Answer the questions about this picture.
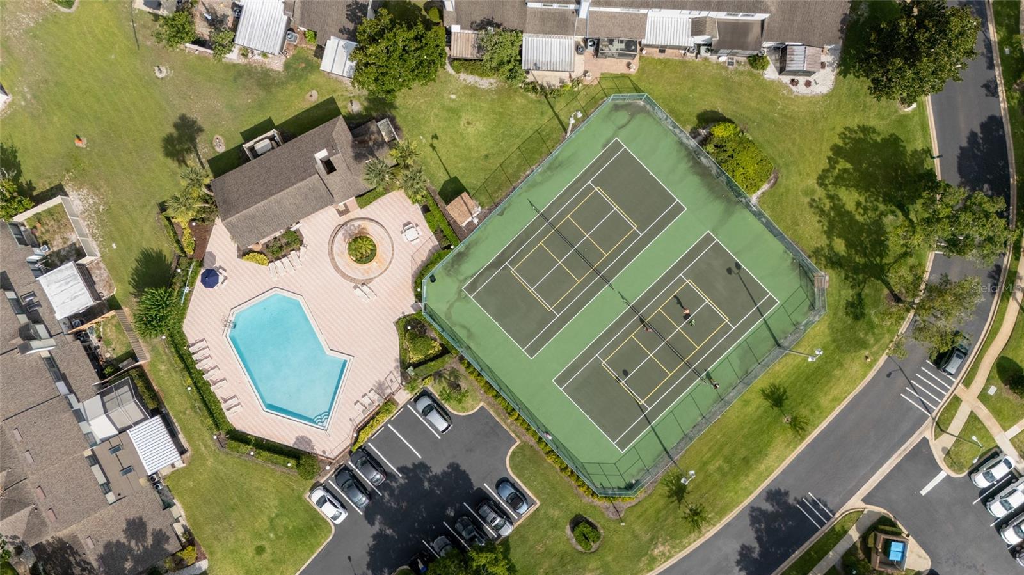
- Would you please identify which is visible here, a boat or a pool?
pool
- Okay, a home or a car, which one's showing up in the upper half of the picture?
home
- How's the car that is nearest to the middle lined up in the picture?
diagonally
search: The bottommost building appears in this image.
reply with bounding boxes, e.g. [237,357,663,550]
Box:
[20,490,187,575]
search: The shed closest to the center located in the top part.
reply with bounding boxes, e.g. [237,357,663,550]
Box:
[446,192,480,226]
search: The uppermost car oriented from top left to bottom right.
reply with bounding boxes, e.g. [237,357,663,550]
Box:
[414,392,453,433]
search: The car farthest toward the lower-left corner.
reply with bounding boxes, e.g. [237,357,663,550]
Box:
[309,484,350,525]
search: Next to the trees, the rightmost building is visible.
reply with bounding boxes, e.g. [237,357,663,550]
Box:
[762,0,851,76]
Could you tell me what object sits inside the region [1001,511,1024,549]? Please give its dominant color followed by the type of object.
white car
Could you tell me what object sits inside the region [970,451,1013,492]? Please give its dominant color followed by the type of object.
white car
